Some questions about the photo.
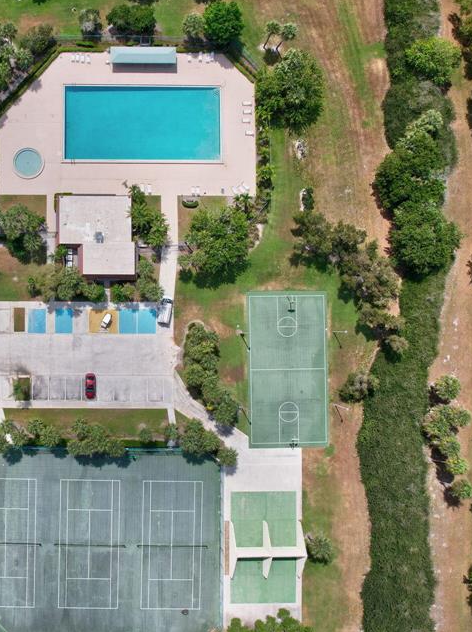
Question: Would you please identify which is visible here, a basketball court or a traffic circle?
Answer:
basketball court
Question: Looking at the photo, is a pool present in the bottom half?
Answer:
No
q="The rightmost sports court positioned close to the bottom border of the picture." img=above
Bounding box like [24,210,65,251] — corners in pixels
[230,490,309,604]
